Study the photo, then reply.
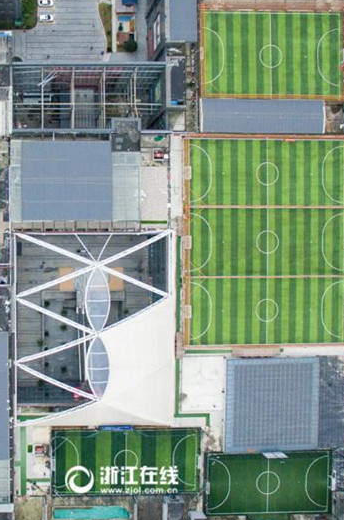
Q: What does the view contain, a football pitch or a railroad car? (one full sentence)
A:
Of the two, only a football pitch appears.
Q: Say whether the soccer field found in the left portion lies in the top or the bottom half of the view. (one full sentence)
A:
The soccer field found in the left portion is in the bottom half of the image.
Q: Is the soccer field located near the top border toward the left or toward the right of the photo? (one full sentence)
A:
The soccer field located near the top border appears in the right half of the scene.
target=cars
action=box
[38,15,54,22]
[38,0,54,7]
